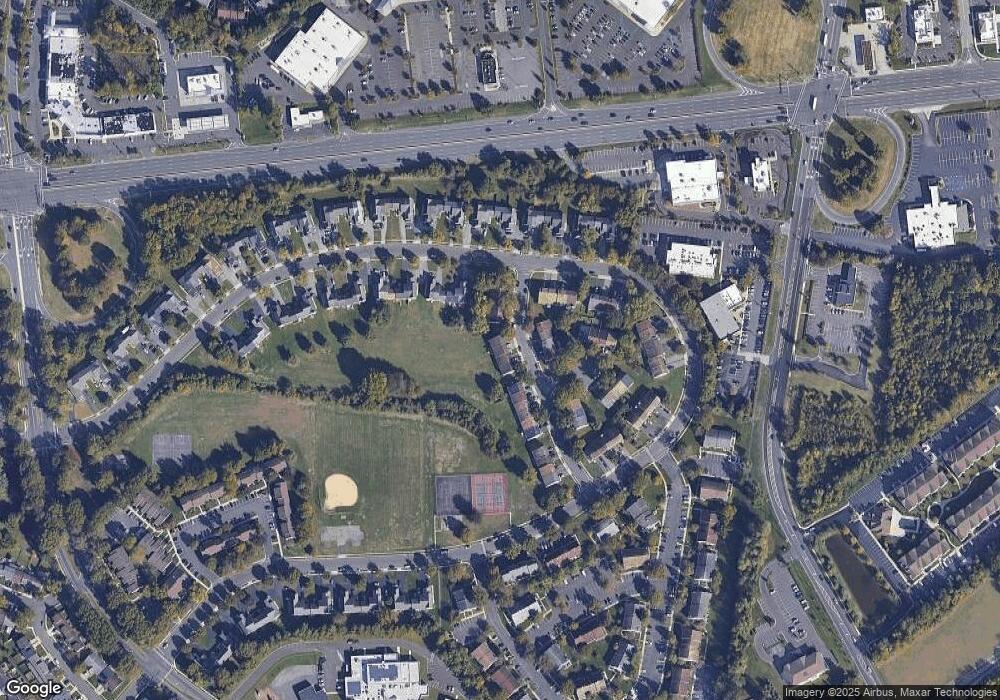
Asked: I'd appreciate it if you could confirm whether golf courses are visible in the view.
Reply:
No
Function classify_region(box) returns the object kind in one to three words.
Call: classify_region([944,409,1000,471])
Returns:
building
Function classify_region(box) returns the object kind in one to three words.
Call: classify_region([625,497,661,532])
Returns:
house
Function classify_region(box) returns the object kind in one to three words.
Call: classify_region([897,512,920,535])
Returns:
swimming pool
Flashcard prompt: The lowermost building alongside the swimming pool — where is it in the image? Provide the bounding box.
[891,529,955,586]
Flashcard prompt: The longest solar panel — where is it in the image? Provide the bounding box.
[370,666,397,680]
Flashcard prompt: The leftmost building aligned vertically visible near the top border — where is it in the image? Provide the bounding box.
[44,27,102,139]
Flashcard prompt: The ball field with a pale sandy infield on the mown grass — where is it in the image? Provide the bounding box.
[319,474,357,517]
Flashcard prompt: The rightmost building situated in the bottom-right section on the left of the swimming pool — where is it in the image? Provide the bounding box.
[877,509,897,537]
